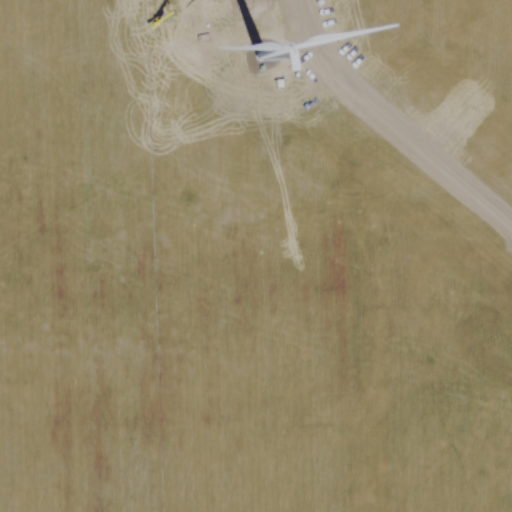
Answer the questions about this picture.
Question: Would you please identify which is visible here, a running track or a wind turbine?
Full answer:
Looking from above, you can make out a wind turbine.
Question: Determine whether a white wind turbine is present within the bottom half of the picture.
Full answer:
No, there is no white wind turbine within the bottom half of the picture.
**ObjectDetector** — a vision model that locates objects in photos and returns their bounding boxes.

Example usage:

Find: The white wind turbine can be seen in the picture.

[220,24,399,71]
